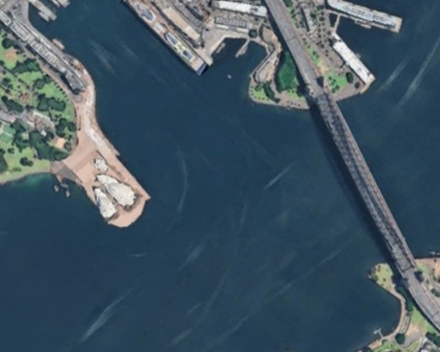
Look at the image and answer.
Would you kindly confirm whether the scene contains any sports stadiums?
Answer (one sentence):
No, this view has no sports stadium in it.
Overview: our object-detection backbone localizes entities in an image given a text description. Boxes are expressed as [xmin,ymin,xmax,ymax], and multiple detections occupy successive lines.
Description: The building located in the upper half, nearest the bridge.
[217,1,269,17]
